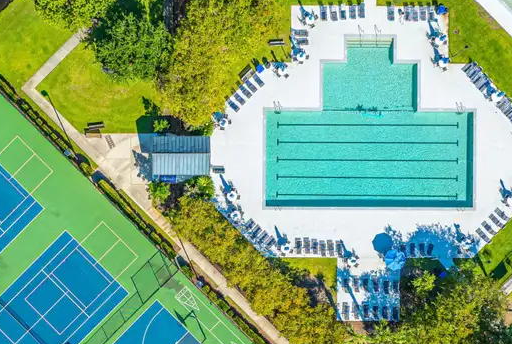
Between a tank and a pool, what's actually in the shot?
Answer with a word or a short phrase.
pool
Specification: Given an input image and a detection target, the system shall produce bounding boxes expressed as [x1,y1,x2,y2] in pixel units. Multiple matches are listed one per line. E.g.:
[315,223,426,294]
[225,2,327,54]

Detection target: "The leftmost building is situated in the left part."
[152,136,211,175]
